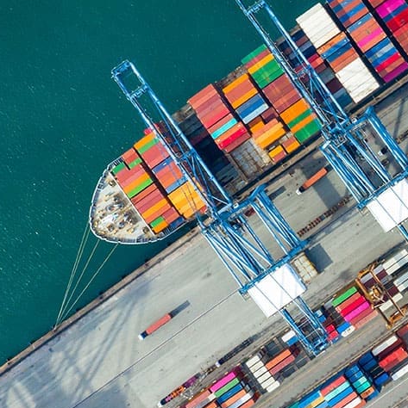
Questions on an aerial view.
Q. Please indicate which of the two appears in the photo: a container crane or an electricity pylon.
container crane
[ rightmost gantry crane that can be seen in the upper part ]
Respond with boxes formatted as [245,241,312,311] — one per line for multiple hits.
[235,0,408,241]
